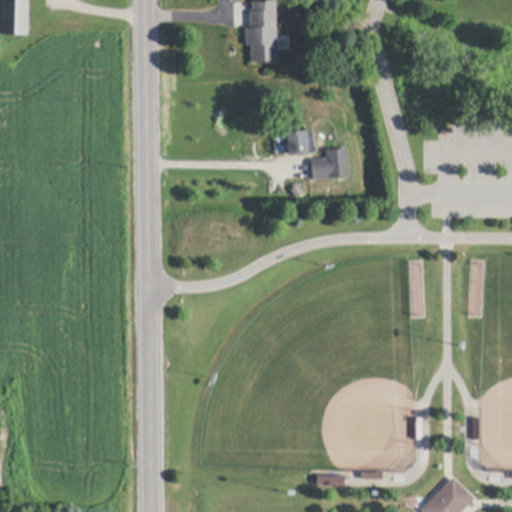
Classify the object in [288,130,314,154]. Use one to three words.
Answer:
building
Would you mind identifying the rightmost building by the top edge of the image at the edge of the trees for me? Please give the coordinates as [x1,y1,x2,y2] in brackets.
[246,0,278,62]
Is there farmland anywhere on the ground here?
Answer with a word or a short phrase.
Yes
